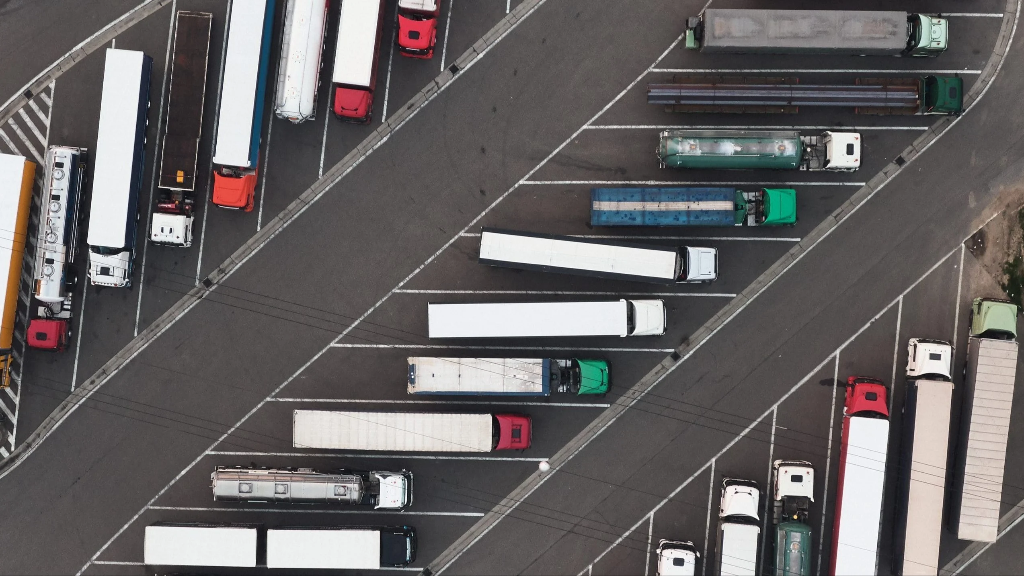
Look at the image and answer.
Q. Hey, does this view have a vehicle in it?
Yes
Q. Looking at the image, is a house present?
No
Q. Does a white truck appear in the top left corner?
Yes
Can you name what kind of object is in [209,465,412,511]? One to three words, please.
truck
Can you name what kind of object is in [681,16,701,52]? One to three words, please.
work vehicle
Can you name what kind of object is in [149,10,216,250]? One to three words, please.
truck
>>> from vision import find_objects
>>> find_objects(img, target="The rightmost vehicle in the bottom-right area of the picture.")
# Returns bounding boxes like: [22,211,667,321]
[946,298,1018,543]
